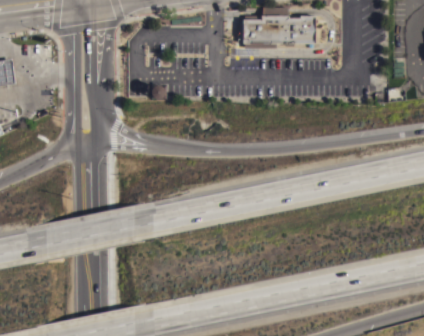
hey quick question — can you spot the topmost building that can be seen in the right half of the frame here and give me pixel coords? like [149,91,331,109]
[243,8,318,48]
